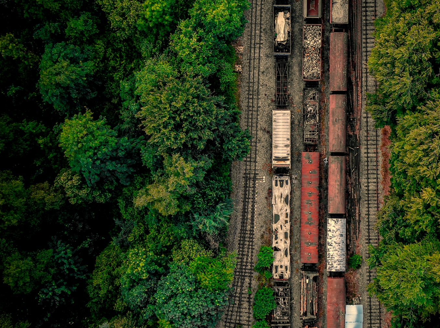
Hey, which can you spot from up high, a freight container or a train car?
train car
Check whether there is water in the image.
No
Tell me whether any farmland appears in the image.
No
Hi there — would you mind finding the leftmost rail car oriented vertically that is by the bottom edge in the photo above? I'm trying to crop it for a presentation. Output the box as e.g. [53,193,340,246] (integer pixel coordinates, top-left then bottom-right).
[272,282,289,322]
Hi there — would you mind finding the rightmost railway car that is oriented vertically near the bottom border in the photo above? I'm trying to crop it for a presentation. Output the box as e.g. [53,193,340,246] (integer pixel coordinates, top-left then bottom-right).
[300,267,317,322]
